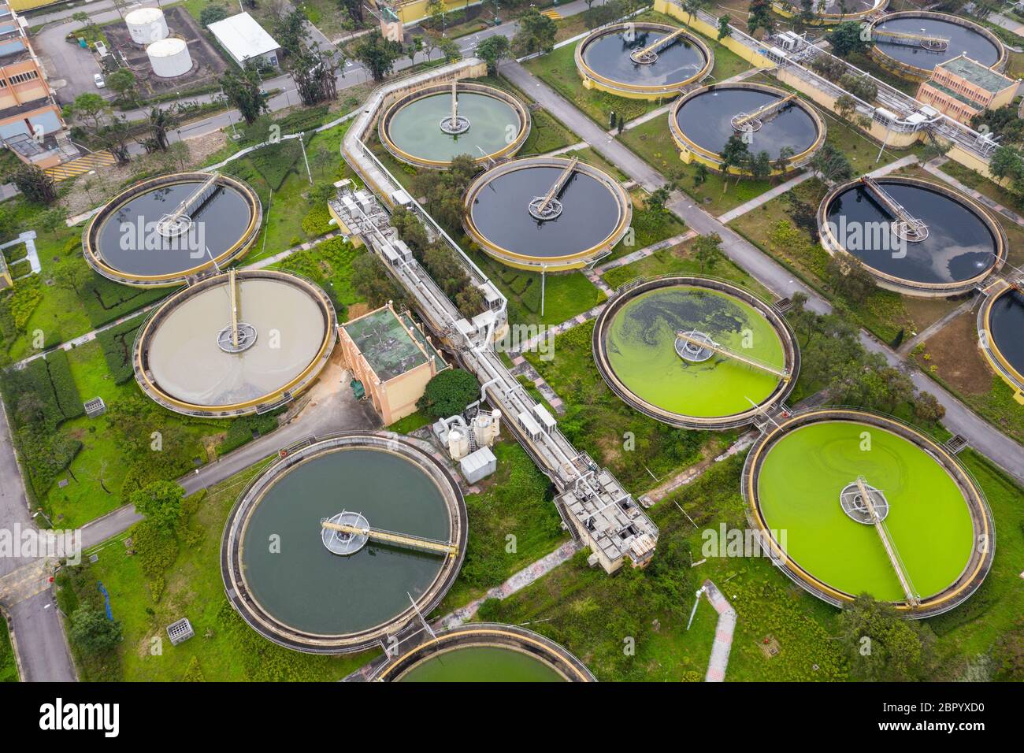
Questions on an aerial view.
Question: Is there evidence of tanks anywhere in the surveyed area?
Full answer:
Yes, the photo shows a tank.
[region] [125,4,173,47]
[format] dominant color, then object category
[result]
white storage tank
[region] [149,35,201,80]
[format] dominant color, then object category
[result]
white storage tank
